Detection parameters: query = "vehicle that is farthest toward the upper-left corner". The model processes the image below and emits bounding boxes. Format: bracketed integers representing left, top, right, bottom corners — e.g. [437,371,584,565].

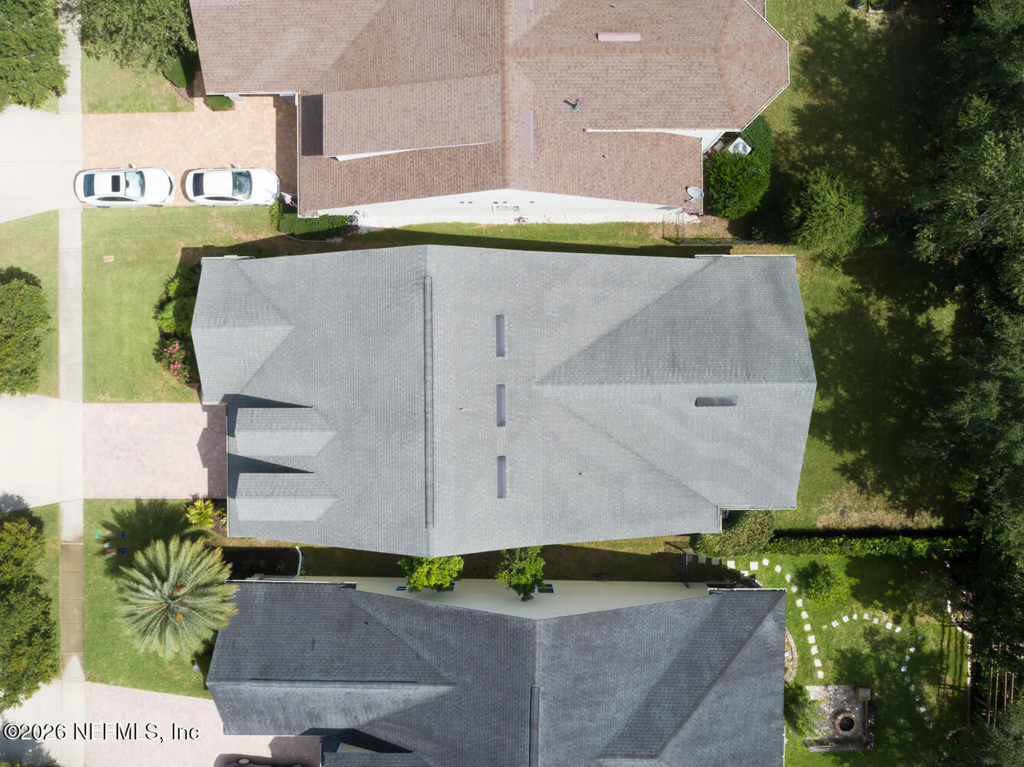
[76,167,177,208]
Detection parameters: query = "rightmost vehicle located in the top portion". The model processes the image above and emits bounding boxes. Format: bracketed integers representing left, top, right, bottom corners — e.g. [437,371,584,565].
[185,167,281,208]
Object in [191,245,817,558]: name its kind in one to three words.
house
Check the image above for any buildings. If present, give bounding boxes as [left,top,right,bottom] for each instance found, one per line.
[207,574,789,767]
[191,245,817,558]
[189,0,792,221]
